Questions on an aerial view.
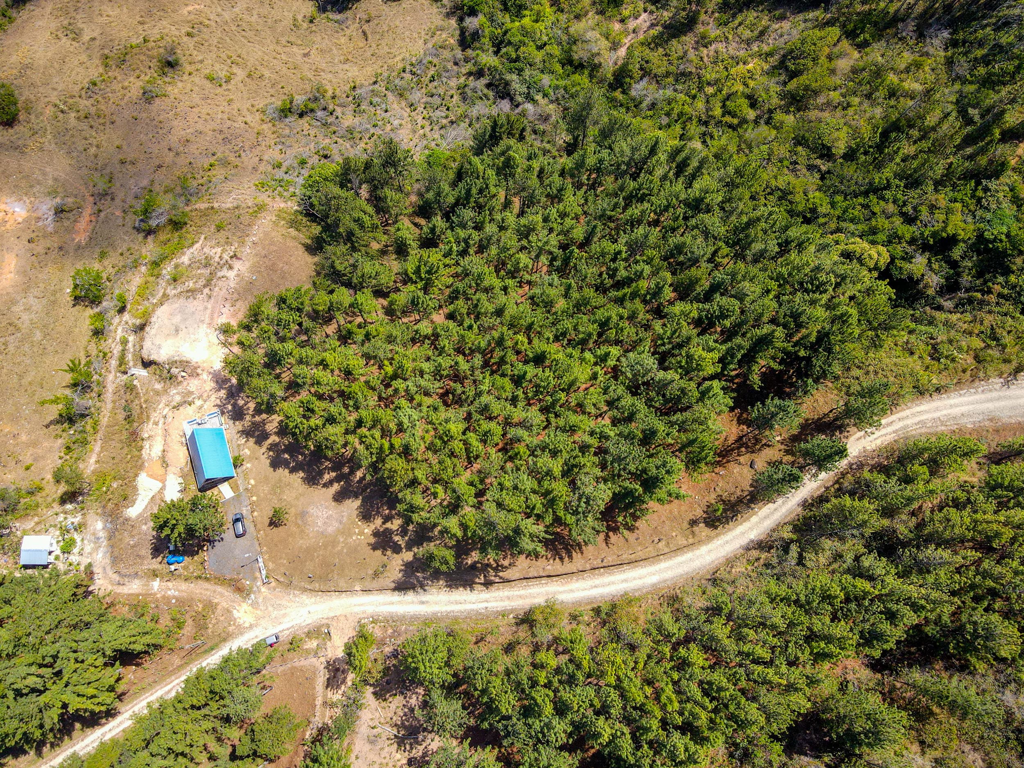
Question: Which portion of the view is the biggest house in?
left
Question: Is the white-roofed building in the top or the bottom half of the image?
bottom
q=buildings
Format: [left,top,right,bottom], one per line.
[17,535,58,565]
[175,409,236,492]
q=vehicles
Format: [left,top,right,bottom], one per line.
[259,632,283,648]
[233,512,248,539]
